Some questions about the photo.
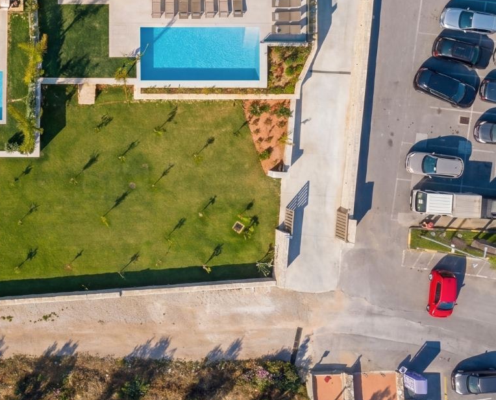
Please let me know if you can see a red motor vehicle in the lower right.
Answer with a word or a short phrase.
Yes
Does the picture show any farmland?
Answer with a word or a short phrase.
No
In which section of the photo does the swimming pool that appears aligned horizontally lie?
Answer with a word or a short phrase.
top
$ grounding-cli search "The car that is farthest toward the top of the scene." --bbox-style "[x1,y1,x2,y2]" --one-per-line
[435,7,496,38]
